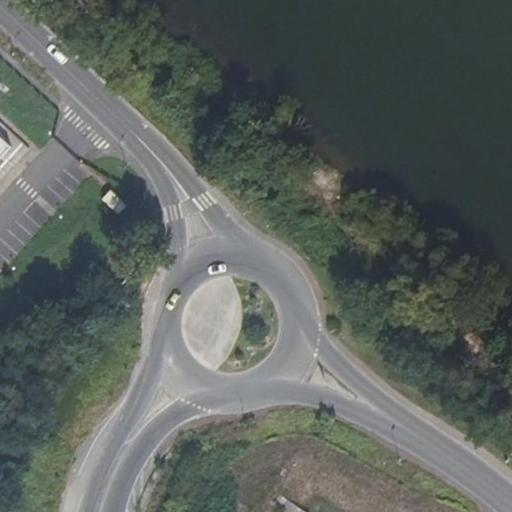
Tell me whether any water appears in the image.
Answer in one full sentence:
Yes, some water is visible.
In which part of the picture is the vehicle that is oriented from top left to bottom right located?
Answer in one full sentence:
The vehicle that is oriented from top left to bottom right sits in the top left section of the image.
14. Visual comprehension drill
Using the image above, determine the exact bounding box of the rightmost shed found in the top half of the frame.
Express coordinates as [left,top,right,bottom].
[101,190,126,215]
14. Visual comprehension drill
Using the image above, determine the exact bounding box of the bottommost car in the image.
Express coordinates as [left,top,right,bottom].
[166,292,180,309]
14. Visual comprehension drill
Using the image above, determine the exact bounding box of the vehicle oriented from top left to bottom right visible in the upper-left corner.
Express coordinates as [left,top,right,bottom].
[47,44,68,64]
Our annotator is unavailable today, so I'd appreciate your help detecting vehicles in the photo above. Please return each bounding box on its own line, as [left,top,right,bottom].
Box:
[166,292,180,309]
[208,264,226,274]
[47,44,68,64]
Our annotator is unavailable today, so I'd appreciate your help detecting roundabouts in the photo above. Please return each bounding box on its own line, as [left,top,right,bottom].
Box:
[148,230,322,414]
